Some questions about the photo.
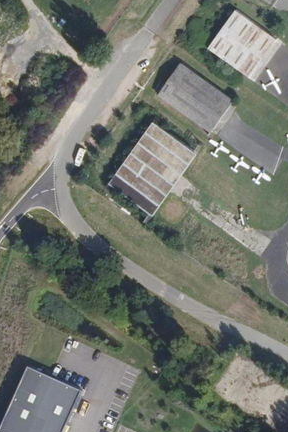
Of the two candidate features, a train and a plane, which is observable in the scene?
plane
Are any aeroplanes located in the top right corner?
Yes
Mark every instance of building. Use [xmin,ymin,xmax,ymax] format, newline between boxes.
[158,64,232,135]
[0,367,85,432]
[208,10,288,84]
[110,123,196,218]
